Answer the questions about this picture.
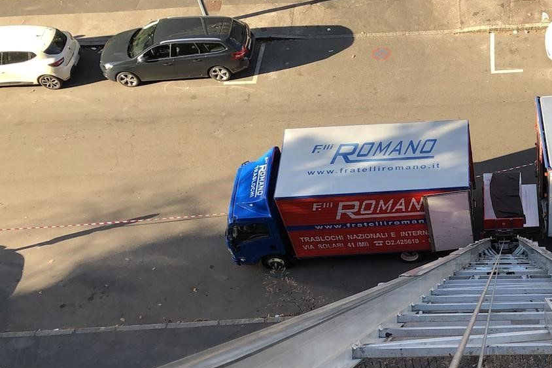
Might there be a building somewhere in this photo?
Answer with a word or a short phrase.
No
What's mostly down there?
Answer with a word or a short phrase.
paved ground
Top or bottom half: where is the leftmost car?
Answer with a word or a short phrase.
top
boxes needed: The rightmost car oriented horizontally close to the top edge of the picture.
[97,12,256,87]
